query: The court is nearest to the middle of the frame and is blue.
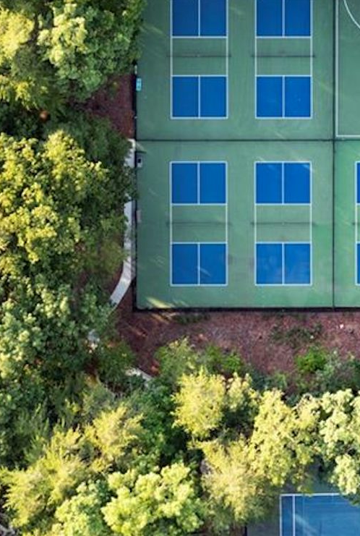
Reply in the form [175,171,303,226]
[170,162,228,286]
